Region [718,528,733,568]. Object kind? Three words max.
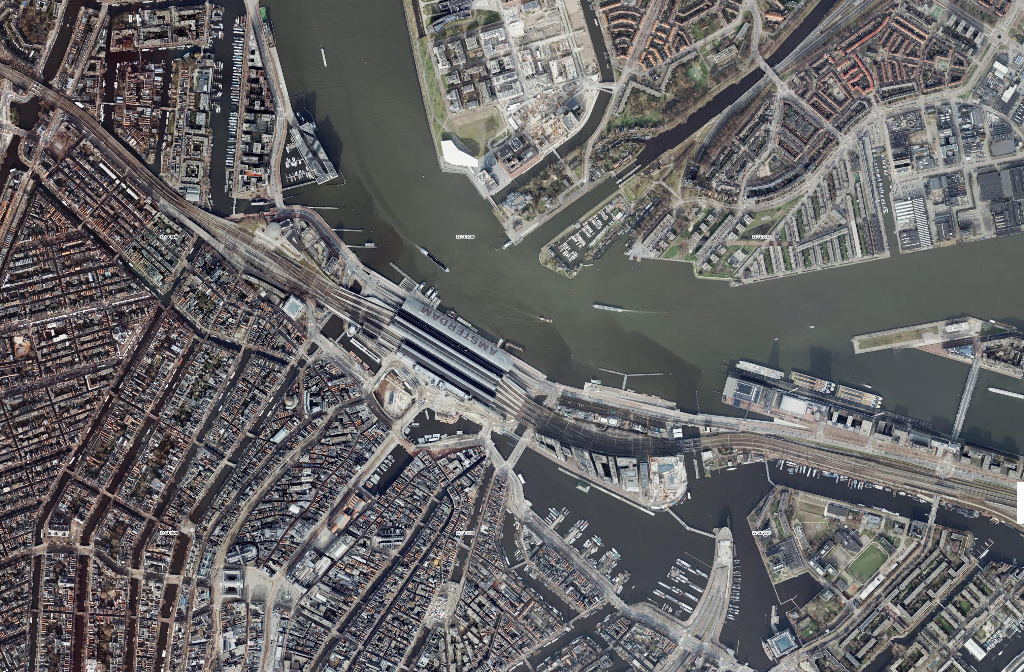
building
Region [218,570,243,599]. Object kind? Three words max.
building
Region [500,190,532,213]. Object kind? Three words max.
house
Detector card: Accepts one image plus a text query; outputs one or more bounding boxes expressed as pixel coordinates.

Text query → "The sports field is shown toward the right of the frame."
[848,543,888,582]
